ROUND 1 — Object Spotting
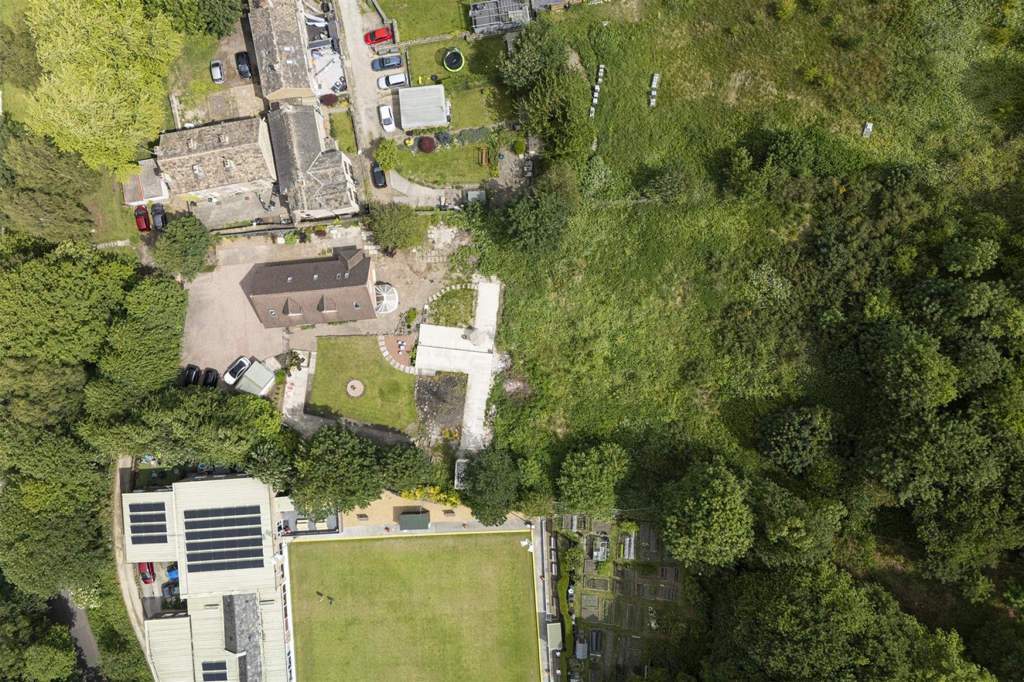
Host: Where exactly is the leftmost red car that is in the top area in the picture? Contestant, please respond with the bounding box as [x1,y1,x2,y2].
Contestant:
[134,205,153,234]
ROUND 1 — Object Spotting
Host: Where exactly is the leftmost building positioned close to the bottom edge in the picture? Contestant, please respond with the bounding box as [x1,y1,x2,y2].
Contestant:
[121,473,301,682]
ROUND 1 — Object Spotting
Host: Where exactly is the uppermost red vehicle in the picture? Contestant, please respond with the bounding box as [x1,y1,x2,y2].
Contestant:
[366,28,394,46]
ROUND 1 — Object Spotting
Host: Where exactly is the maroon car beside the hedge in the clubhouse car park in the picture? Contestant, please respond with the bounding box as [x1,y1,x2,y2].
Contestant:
[138,563,156,585]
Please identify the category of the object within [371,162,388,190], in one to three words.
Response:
car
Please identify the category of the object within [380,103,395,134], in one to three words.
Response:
car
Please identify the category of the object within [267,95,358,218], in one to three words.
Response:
house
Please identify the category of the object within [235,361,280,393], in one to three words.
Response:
shed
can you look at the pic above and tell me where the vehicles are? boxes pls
[380,103,395,134]
[138,563,156,585]
[134,205,153,234]
[225,356,251,385]
[161,582,178,597]
[201,364,221,394]
[182,361,203,391]
[161,565,177,579]
[209,59,226,86]
[151,203,169,230]
[366,28,394,46]
[371,162,388,190]
[236,50,253,81]
[373,55,404,73]
[378,72,410,91]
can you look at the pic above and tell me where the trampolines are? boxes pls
[443,44,463,67]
